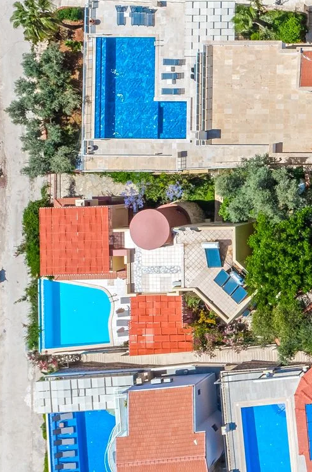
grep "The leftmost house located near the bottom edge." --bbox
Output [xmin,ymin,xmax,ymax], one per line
[102,363,234,472]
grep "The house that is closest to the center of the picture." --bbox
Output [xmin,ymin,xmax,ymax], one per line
[53,193,259,323]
